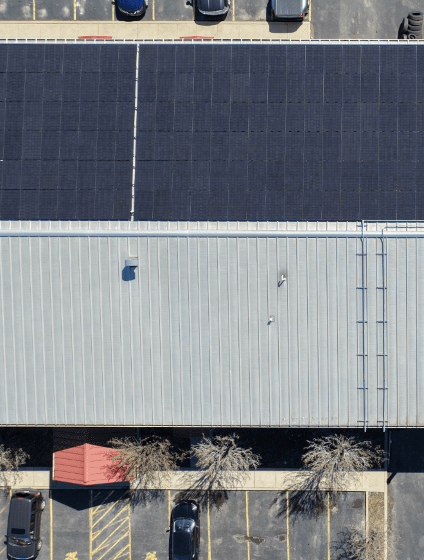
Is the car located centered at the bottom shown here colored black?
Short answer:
Yes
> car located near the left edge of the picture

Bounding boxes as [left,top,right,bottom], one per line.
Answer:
[2,484,44,560]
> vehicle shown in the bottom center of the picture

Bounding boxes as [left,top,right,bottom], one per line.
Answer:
[165,499,200,560]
